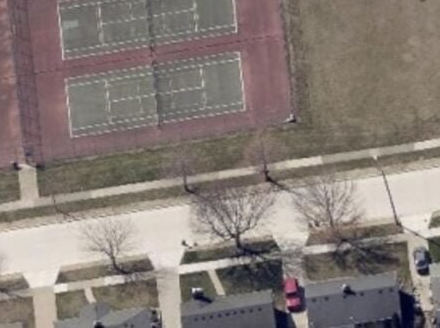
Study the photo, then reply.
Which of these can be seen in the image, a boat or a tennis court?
tennis court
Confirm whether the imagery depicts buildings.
Yes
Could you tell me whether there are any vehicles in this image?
Yes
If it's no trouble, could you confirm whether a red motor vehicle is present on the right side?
Yes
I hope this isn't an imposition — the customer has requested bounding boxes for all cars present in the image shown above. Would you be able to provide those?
[412,246,430,276]
[284,278,304,310]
